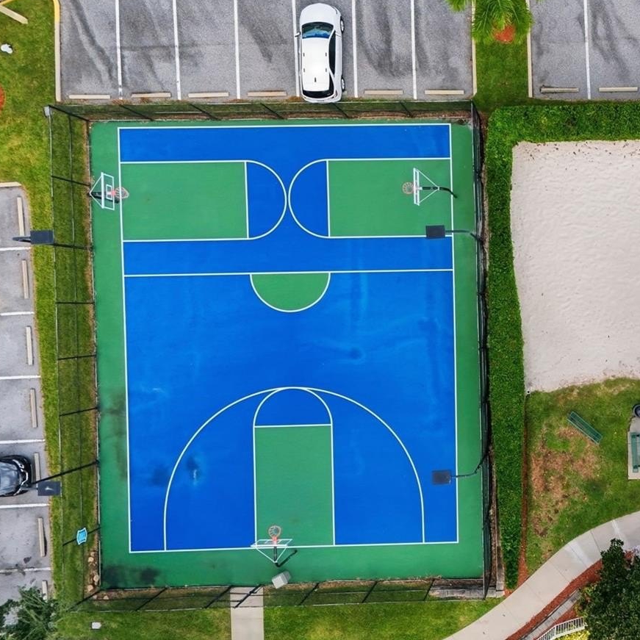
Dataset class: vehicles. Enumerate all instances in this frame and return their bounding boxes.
[0,453,34,498]
[290,3,344,102]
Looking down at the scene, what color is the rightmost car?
white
